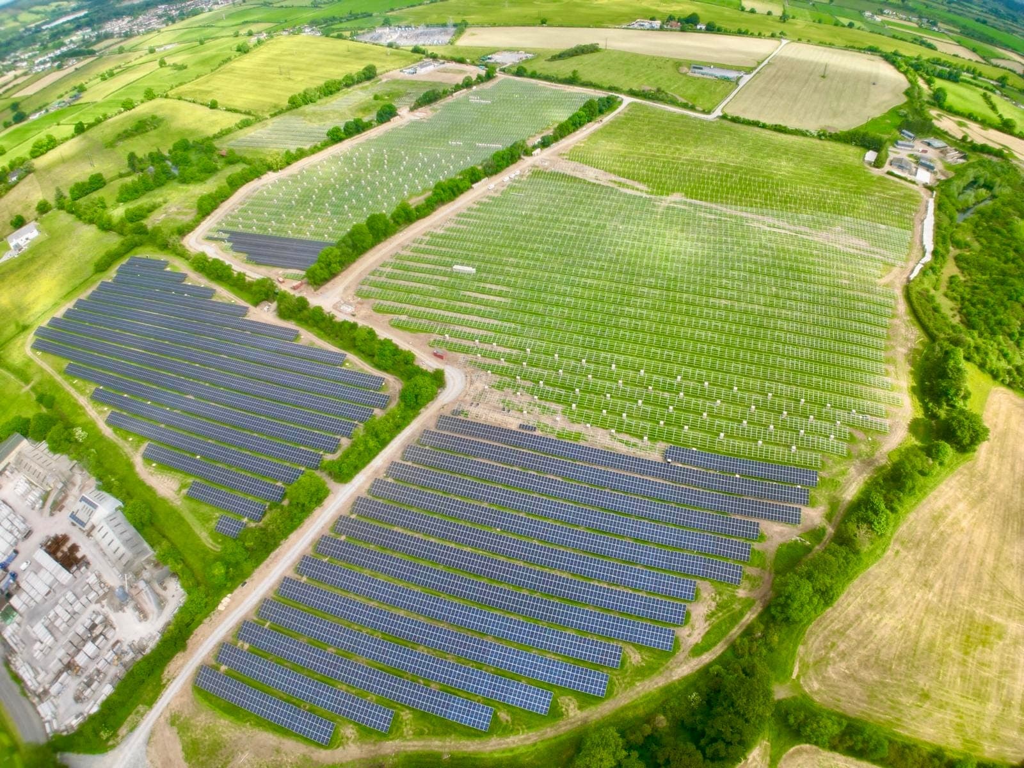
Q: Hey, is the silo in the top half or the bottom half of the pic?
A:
bottom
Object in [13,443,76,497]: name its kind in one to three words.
barn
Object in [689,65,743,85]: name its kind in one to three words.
shed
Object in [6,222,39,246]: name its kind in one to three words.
house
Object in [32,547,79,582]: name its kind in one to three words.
shed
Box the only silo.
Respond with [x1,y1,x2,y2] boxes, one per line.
[101,578,127,601]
